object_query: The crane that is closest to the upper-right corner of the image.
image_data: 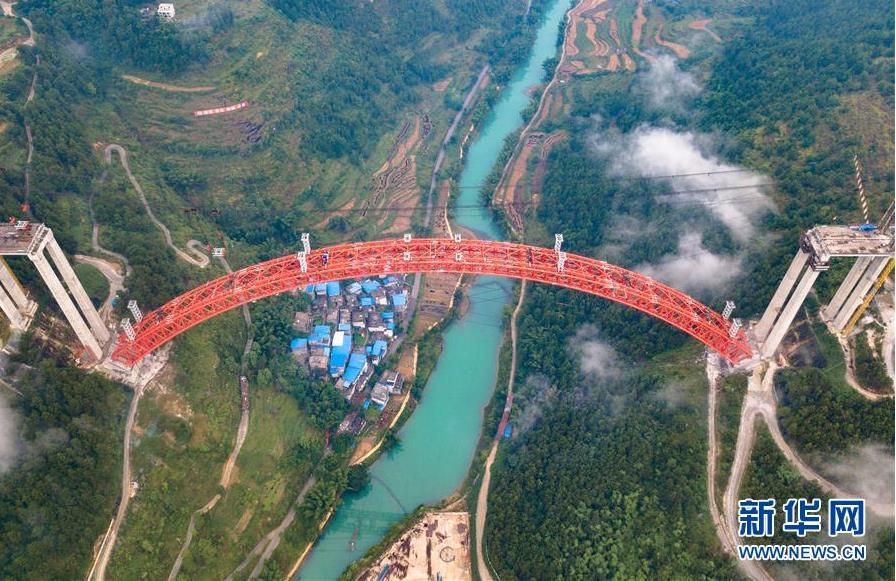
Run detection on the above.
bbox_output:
[854,155,879,231]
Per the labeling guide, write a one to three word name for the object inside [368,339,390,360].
house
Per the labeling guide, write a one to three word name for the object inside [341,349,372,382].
house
